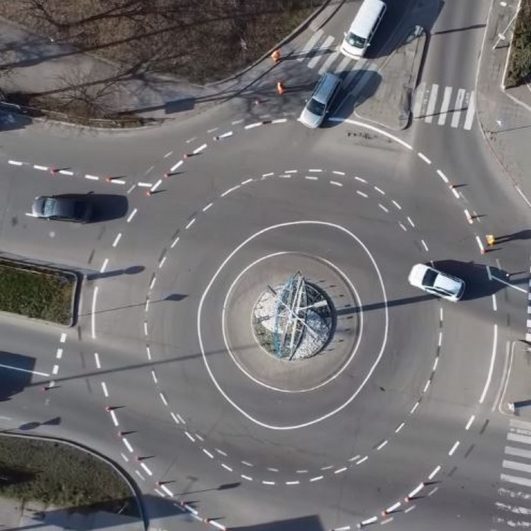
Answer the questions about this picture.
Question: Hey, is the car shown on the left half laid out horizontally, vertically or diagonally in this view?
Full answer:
In this picture, the car shown on the left half lies horizontally.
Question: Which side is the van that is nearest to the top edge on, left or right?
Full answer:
The van that is nearest to the top edge is on the right side of the image.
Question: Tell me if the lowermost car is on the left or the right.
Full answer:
The lowermost car is on the right side of the image.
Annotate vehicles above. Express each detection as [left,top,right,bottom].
[408,263,465,302]
[32,193,92,222]
[301,74,341,130]
[341,0,387,61]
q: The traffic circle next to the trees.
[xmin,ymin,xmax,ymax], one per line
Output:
[78,111,510,531]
